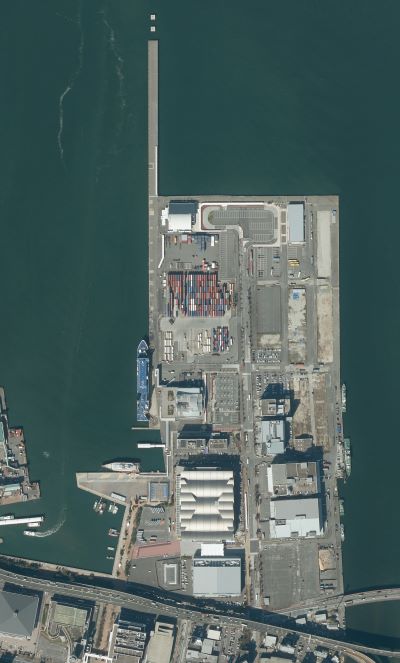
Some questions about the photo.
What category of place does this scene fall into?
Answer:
port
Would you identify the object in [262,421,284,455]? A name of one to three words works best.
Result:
building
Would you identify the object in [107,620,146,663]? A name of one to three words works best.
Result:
building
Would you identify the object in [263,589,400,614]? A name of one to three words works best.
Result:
bridge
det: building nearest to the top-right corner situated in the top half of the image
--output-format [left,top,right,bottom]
[288,204,308,244]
